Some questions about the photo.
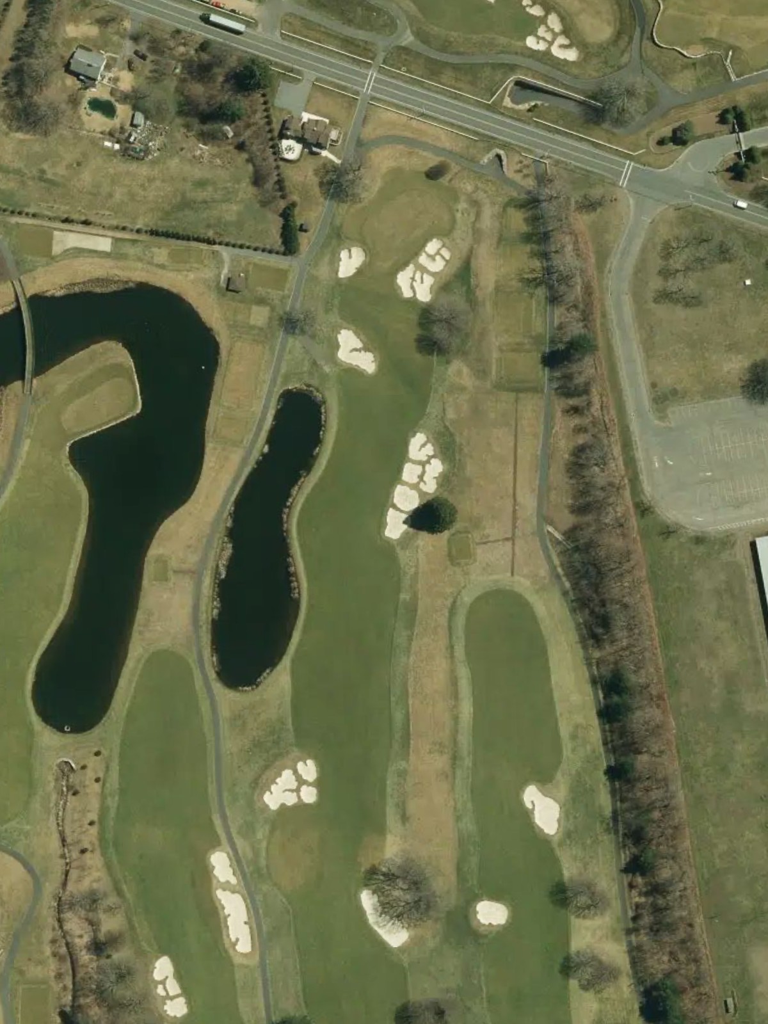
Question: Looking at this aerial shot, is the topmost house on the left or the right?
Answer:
left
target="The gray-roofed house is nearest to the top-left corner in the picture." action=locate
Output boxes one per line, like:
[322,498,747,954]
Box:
[69,47,107,88]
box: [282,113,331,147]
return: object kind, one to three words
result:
house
